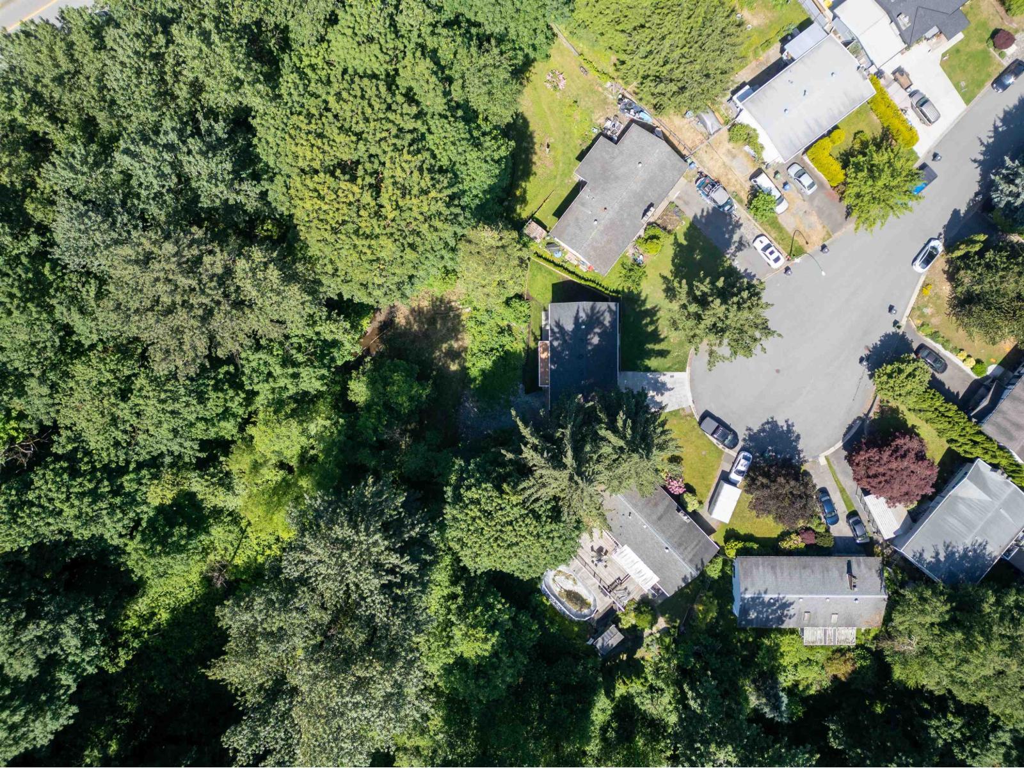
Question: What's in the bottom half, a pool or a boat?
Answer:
pool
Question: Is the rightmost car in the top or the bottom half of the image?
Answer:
top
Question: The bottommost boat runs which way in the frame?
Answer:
diagonally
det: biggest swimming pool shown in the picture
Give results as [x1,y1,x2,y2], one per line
[538,563,598,622]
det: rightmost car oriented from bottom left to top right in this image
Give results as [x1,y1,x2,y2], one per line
[988,56,1024,96]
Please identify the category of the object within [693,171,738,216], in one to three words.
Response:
boat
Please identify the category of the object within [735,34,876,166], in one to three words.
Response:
house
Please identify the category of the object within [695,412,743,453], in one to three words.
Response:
truck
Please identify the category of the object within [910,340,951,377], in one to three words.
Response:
car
